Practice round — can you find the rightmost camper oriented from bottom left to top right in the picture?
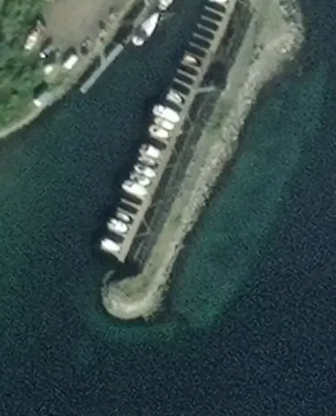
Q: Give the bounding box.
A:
[64,53,80,70]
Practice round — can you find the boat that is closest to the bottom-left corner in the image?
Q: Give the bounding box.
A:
[98,237,121,251]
